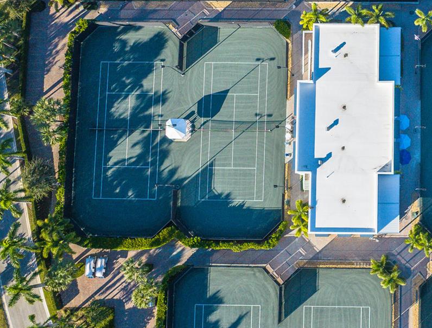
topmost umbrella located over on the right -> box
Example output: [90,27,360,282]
[395,114,412,130]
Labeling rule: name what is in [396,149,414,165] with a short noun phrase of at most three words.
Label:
umbrella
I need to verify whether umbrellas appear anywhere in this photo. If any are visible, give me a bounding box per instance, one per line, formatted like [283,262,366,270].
[395,114,412,130]
[396,149,414,165]
[396,133,412,149]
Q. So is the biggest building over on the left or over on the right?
right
